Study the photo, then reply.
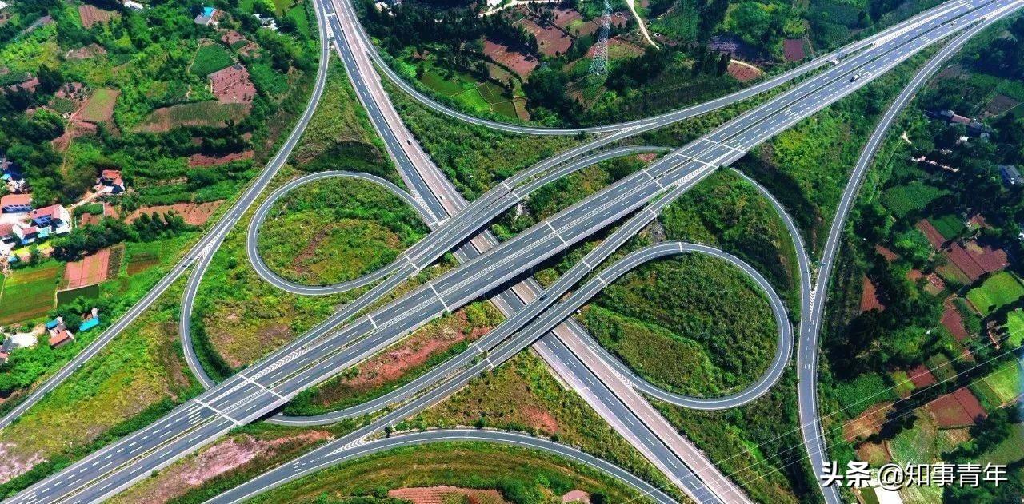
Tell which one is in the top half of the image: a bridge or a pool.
bridge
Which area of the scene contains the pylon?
top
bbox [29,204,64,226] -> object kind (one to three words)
house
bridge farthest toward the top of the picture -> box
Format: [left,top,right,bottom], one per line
[678,130,744,170]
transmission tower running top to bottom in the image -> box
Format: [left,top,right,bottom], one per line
[587,0,619,82]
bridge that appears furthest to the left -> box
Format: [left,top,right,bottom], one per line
[194,369,287,435]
